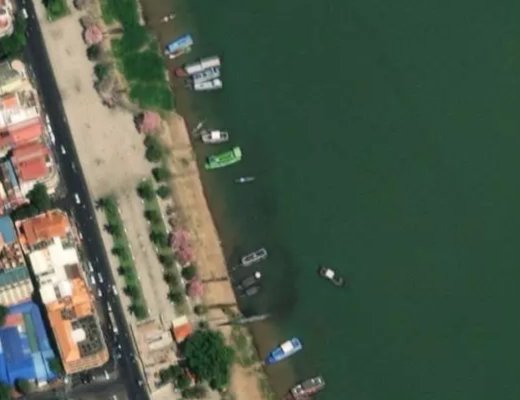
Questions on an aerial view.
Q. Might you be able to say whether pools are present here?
No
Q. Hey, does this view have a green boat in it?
Yes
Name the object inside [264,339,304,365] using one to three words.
boat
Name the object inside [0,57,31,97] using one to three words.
house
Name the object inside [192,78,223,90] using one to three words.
boat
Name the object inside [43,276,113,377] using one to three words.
building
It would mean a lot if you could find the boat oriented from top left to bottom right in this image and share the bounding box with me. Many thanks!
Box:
[320,266,343,285]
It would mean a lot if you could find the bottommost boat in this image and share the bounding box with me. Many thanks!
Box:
[280,373,327,400]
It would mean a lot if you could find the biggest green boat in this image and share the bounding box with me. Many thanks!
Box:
[205,146,242,169]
